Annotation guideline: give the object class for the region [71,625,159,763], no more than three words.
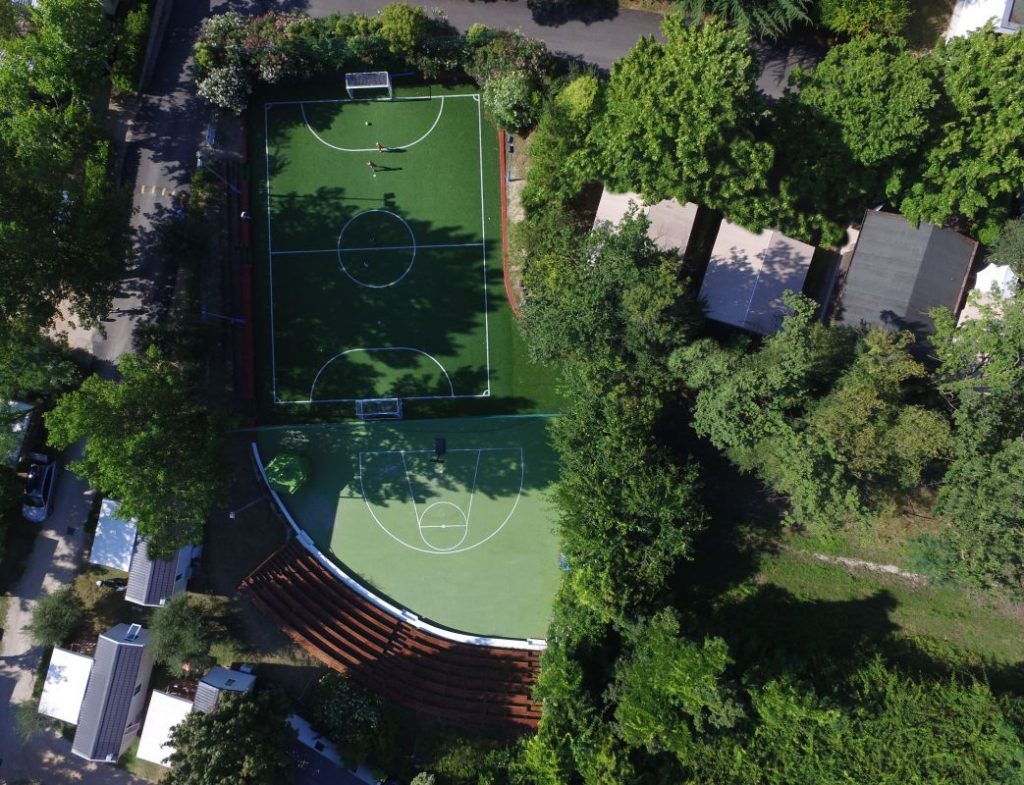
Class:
house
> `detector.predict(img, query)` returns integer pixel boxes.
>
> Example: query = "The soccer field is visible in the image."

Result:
[251,72,574,431]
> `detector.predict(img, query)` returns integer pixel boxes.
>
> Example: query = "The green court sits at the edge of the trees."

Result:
[254,416,569,638]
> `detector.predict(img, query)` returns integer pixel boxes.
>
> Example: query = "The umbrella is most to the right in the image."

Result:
[967,258,1019,305]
